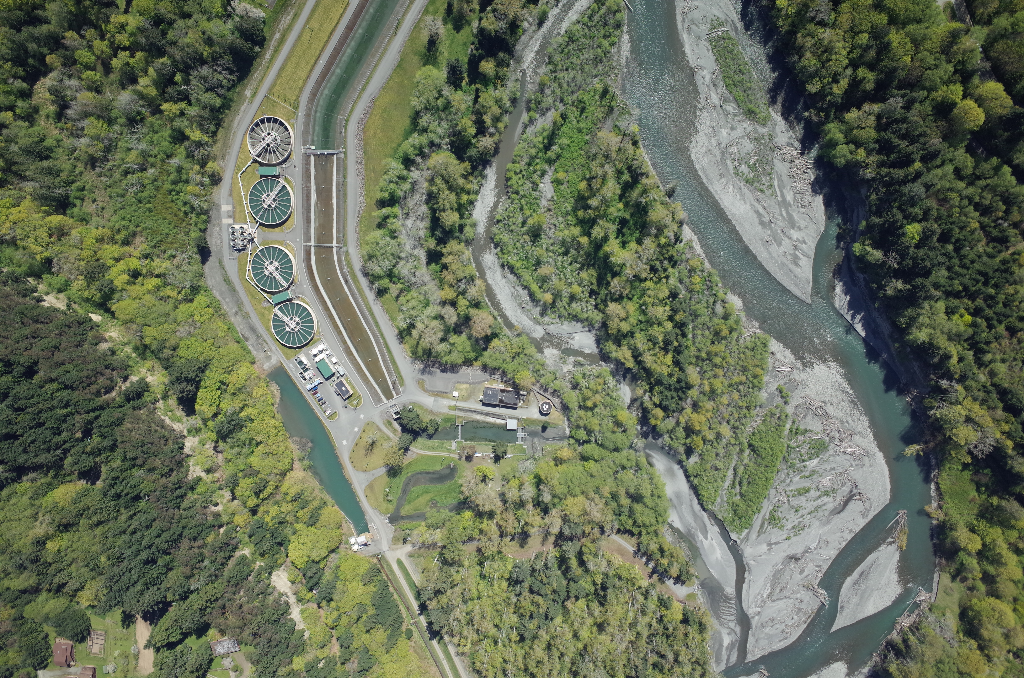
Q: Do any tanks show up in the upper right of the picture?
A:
No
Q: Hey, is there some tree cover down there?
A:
Yes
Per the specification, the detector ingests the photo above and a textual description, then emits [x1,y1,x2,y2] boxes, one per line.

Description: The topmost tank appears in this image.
[248,117,295,163]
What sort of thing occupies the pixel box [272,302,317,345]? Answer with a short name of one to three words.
storage tank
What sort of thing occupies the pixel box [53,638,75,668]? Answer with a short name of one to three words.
house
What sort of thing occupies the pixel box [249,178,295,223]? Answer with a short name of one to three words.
storage tank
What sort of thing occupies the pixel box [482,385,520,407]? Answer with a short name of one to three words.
building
